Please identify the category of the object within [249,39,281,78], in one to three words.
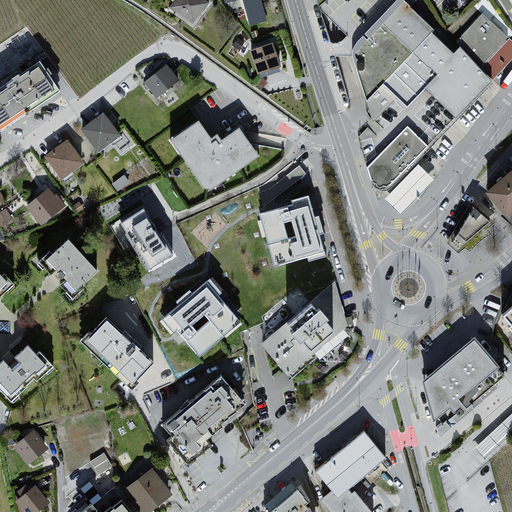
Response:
house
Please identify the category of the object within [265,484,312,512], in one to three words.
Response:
building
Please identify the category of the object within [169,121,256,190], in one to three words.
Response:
building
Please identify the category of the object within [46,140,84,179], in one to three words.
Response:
house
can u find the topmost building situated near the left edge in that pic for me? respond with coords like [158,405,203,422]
[0,62,60,132]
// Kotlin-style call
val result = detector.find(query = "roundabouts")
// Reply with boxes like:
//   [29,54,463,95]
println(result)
[371,250,446,325]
